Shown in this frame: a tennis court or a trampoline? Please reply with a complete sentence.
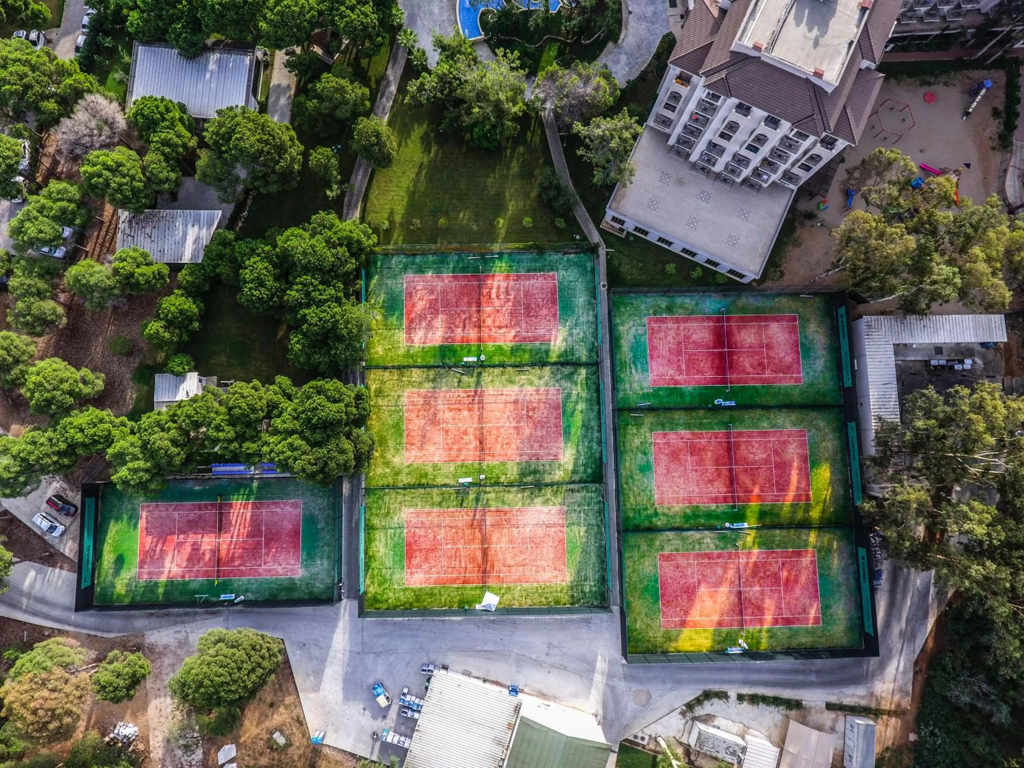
I can see a tennis court in this picture.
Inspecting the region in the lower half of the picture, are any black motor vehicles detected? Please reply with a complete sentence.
Yes, a black motor vehicle appears in the lower half of the picture.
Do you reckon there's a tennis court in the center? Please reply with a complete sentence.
Yes, in the center there is a tennis court.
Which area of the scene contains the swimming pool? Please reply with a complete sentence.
The swimming pool sits in the top section of the image.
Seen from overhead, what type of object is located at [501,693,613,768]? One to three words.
building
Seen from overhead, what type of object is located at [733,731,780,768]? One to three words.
shed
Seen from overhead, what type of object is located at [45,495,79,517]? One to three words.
car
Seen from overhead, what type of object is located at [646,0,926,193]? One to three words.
building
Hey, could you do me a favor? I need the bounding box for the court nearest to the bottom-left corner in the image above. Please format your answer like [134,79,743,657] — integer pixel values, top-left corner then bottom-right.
[94,480,336,605]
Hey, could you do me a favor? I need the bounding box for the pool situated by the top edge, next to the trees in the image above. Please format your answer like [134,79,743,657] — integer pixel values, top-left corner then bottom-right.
[458,0,500,37]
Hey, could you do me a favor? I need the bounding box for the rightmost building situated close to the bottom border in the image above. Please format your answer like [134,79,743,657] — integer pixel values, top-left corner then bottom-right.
[838,714,876,768]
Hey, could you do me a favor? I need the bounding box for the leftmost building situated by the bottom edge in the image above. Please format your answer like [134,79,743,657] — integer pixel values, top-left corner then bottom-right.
[403,664,522,768]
